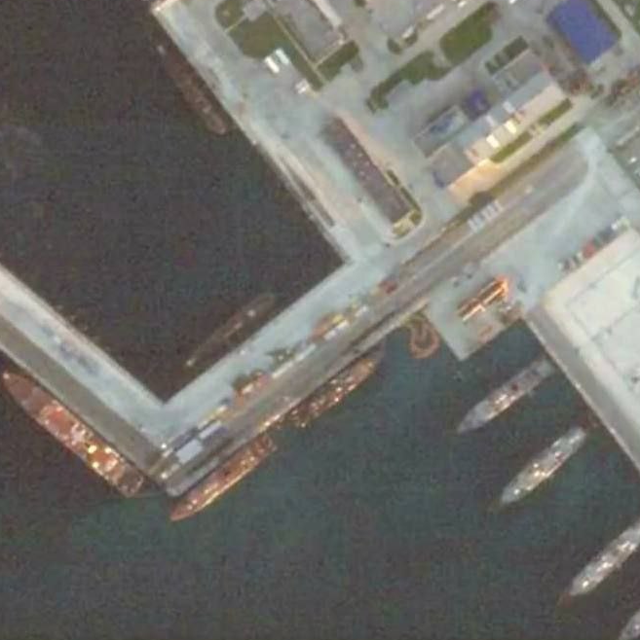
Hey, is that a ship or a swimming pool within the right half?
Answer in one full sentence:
The one visible within the right half is a ship.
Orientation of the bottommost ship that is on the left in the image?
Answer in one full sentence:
The bottommost ship that is on the left is oriented on a diagonal.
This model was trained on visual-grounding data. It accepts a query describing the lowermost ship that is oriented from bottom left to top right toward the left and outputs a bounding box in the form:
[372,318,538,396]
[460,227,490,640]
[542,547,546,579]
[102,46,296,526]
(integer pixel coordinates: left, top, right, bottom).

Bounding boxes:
[171,437,281,521]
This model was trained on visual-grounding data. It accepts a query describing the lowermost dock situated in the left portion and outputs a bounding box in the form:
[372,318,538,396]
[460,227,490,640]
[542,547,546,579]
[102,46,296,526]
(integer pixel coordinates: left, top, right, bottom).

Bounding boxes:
[0,262,426,496]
